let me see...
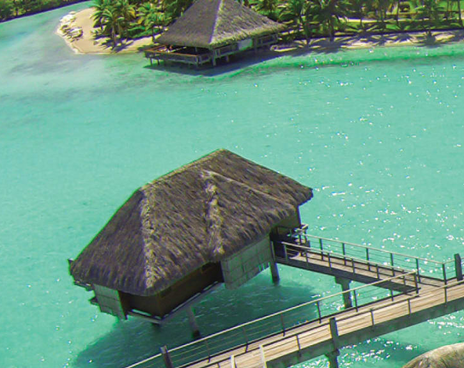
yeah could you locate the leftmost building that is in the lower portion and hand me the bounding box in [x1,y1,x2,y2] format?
[62,151,317,344]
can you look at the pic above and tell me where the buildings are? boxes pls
[140,0,290,80]
[62,151,317,344]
